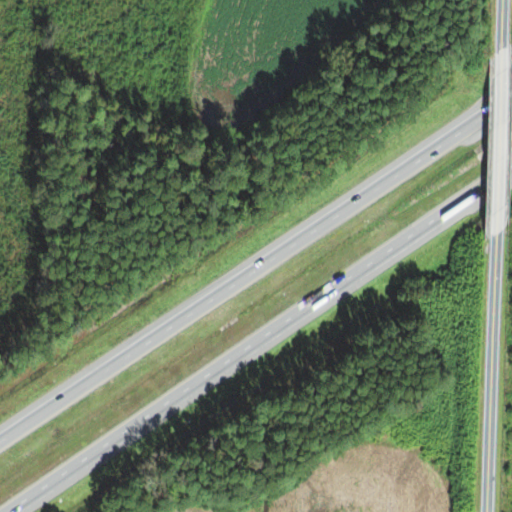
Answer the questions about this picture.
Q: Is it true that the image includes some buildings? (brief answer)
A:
No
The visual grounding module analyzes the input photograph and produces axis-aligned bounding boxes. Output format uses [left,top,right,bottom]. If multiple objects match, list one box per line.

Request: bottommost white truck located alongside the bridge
[441,194,480,222]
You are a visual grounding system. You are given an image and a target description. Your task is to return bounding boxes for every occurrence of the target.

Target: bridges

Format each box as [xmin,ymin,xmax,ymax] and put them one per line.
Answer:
[484,44,512,242]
